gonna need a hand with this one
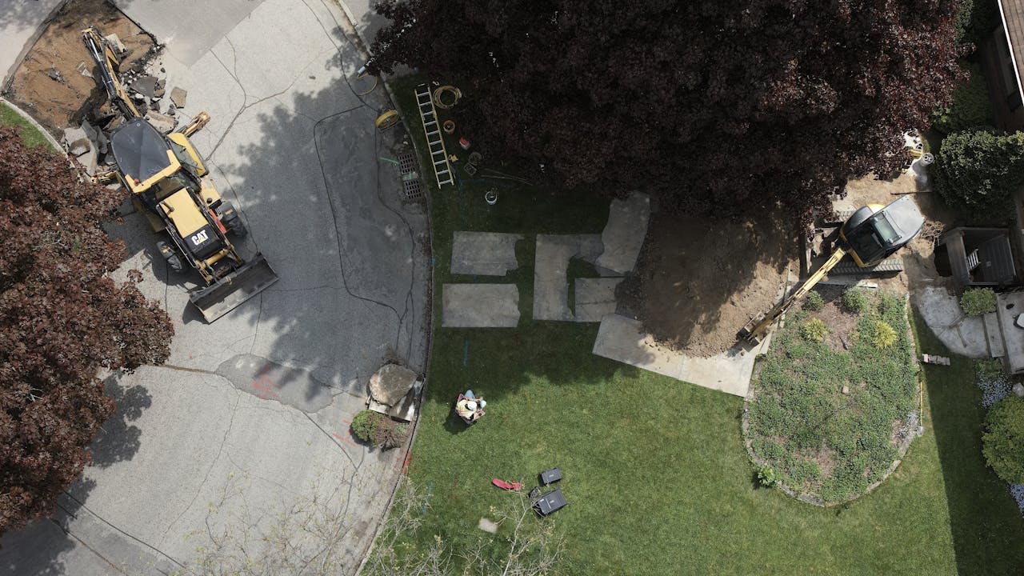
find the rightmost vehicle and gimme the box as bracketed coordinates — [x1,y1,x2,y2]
[728,195,925,360]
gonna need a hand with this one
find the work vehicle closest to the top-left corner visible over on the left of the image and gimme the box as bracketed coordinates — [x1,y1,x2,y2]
[78,24,278,324]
